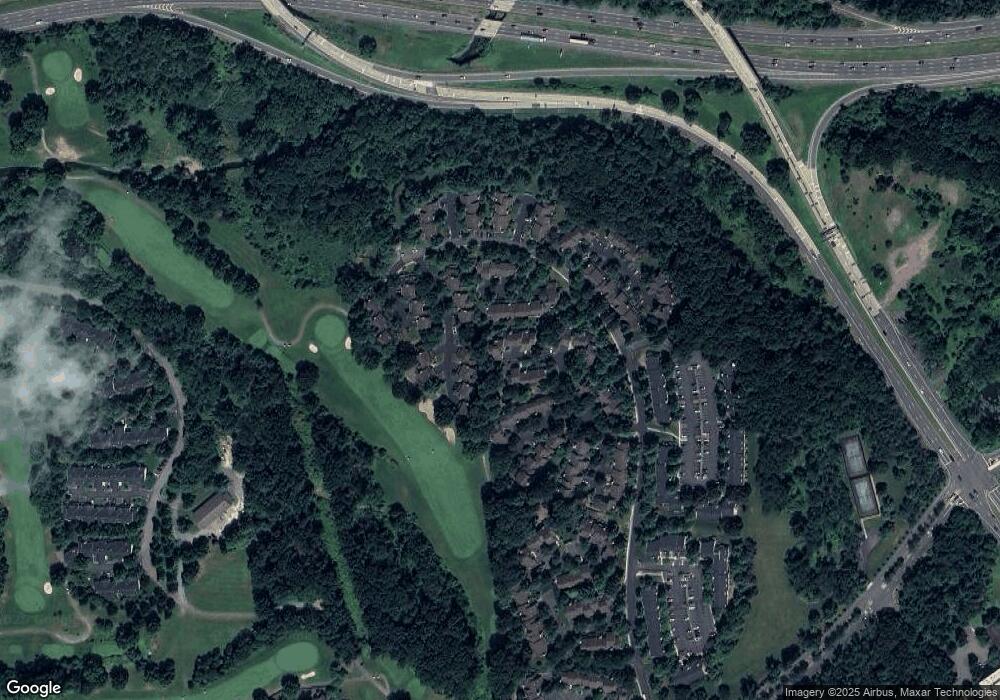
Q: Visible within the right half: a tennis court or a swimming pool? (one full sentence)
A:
There is a tennis court within the right half.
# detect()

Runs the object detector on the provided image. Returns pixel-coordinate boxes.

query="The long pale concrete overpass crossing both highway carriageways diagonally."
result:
[686,0,834,228]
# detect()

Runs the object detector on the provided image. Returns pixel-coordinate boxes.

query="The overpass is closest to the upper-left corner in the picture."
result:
[262,0,339,58]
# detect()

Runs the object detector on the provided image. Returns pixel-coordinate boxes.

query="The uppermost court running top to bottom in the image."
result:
[841,435,868,478]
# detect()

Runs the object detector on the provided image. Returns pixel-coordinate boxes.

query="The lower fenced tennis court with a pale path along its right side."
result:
[851,474,879,518]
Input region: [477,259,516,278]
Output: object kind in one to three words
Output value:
house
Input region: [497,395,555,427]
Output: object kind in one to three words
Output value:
house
